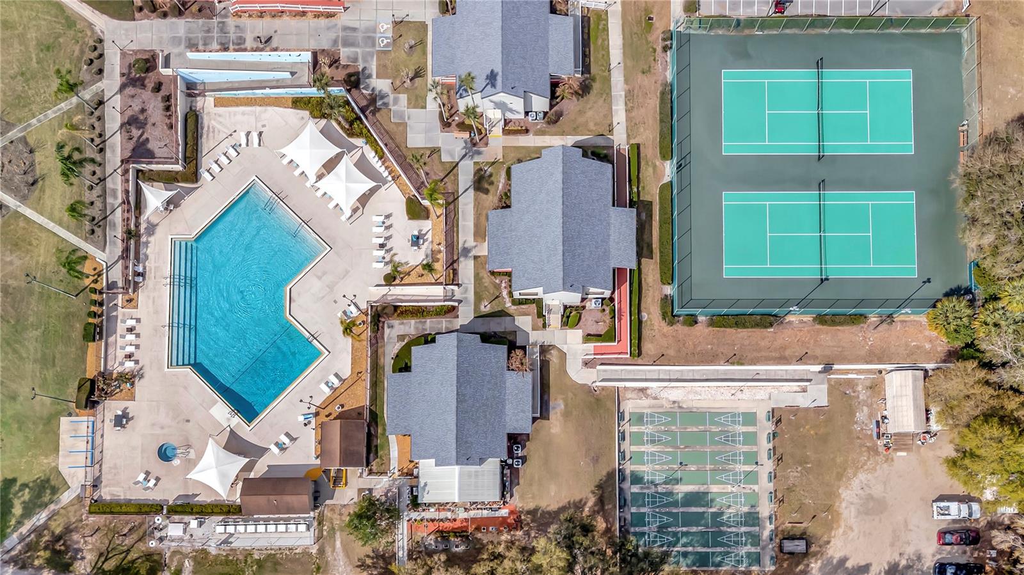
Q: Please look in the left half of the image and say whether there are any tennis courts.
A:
No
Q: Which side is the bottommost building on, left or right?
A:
left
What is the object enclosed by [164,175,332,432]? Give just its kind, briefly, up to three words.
swimming pool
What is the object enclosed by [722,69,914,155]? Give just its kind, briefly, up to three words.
tennis court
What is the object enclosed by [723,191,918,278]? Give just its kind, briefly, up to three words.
tennis court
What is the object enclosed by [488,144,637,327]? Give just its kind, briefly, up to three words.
building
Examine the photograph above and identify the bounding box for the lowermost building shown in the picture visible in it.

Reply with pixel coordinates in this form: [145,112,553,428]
[241,478,320,515]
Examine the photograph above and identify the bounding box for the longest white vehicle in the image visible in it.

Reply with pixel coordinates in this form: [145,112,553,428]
[932,501,985,522]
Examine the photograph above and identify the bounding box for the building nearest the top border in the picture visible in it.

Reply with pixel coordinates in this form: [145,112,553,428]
[432,0,605,136]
